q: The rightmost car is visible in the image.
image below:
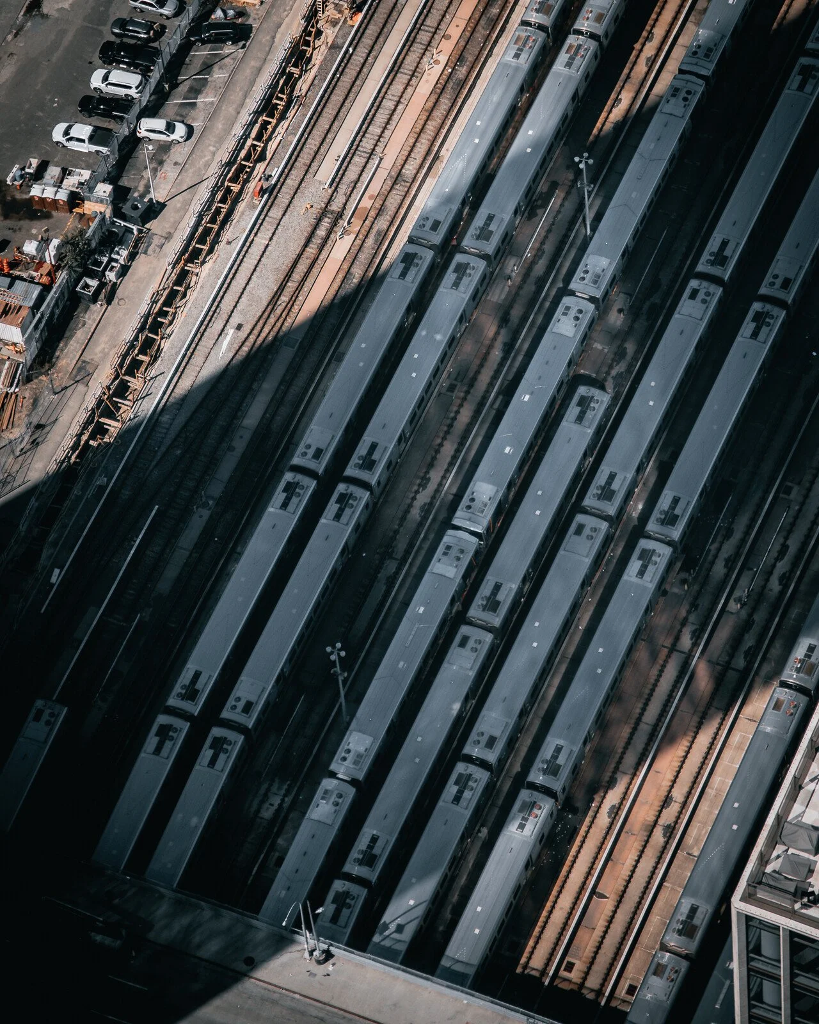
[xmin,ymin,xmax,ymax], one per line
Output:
[188,23,244,53]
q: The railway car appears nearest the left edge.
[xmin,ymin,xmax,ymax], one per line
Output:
[0,699,71,833]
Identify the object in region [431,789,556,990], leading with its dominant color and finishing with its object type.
gray rail car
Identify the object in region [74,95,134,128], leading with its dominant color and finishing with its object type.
black truck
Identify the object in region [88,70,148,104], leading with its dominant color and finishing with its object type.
white car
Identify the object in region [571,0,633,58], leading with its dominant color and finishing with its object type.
gray rail car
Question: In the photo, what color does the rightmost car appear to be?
black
